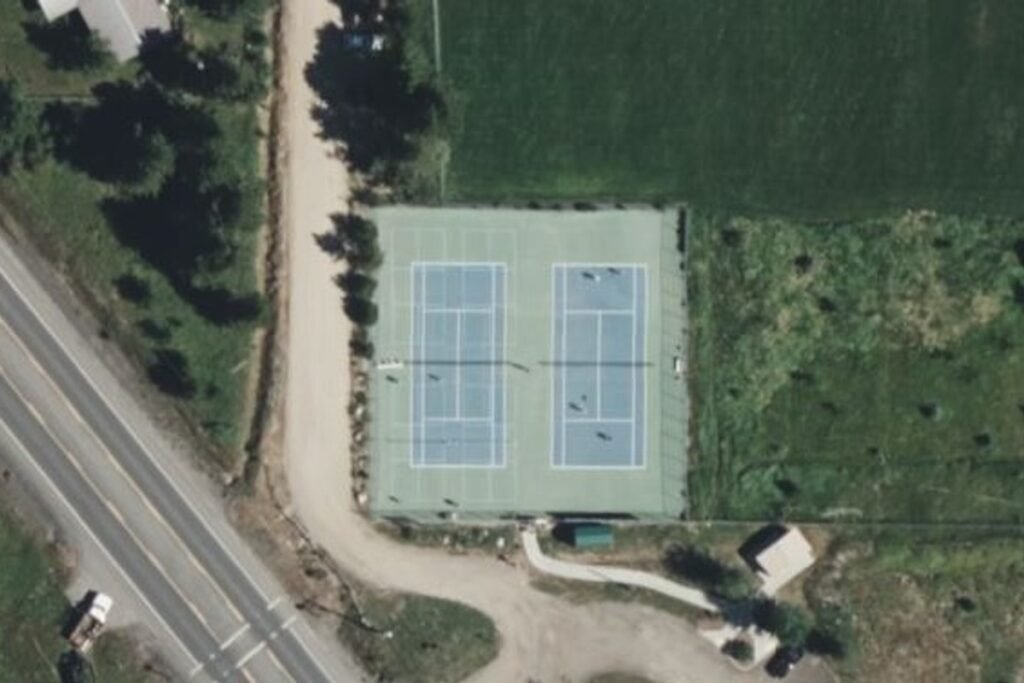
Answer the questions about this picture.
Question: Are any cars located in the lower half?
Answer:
Yes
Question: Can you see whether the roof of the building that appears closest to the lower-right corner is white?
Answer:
Yes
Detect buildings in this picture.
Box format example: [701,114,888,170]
[755,529,817,591]
[39,0,170,67]
[575,526,614,554]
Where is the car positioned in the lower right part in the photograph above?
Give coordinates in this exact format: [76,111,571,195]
[765,642,806,677]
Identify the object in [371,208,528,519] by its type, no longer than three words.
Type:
tennis court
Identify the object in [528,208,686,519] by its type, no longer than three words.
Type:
tennis court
